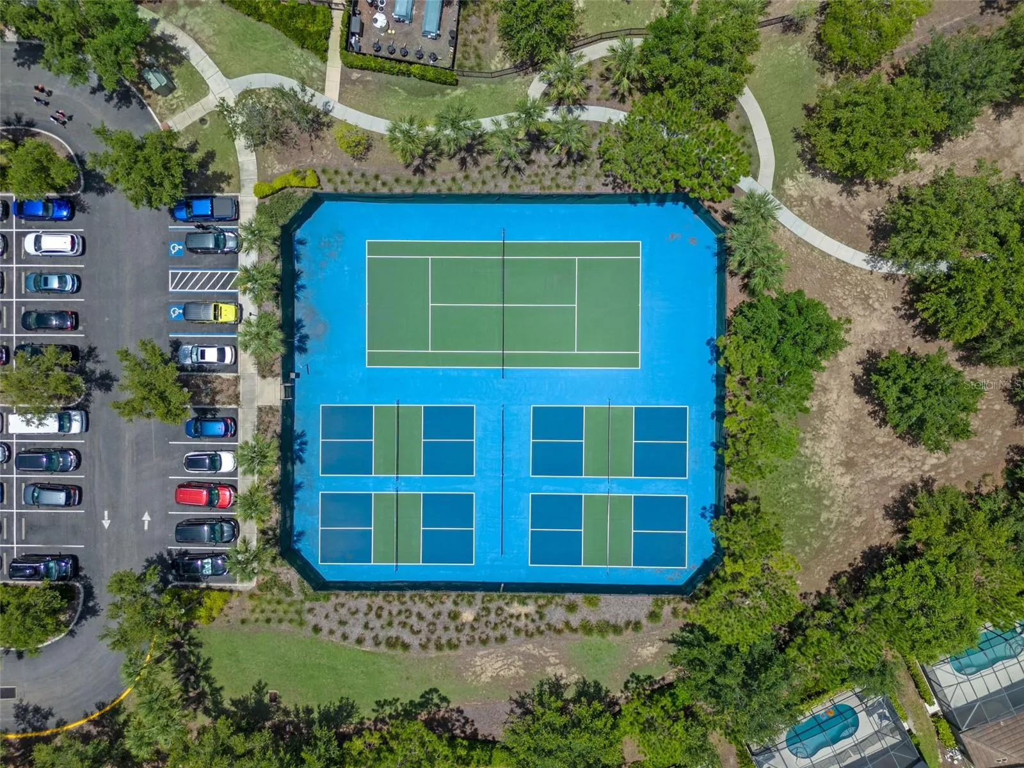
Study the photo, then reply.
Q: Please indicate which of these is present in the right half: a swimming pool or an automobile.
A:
swimming pool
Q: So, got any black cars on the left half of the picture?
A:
Yes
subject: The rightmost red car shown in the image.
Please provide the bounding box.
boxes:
[175,482,239,510]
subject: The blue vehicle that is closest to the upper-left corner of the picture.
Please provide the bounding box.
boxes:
[16,196,77,223]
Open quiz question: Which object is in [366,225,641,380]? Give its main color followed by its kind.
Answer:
green tennis court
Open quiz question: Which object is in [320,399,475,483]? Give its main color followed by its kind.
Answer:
blue sports court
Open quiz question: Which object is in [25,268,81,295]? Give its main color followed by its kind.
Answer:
blue car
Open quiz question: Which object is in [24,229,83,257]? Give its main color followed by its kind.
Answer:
white car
